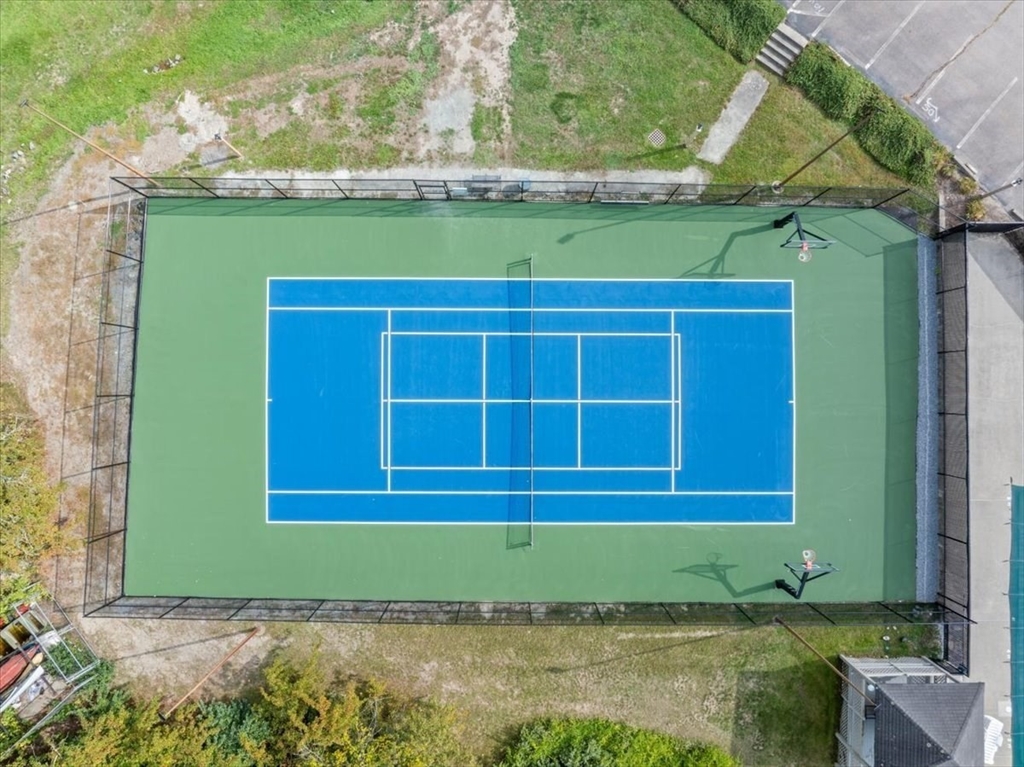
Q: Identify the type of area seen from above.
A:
sports ground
